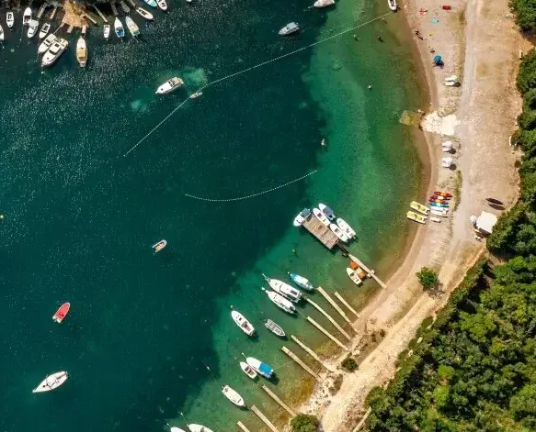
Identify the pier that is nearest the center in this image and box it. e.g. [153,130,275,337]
[303,213,339,249]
